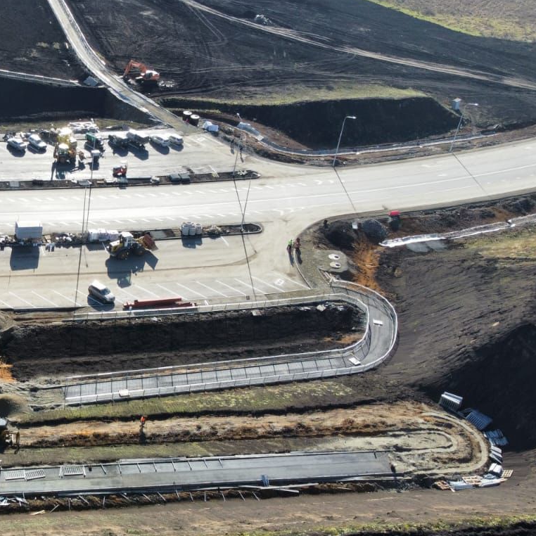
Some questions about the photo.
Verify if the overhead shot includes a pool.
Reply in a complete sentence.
No, I can't see a single pool in this photo.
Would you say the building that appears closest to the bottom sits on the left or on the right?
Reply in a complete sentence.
The building that appears closest to the bottom is on the left side of the image.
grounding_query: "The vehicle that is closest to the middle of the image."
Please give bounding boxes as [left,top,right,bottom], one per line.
[111,235,160,258]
